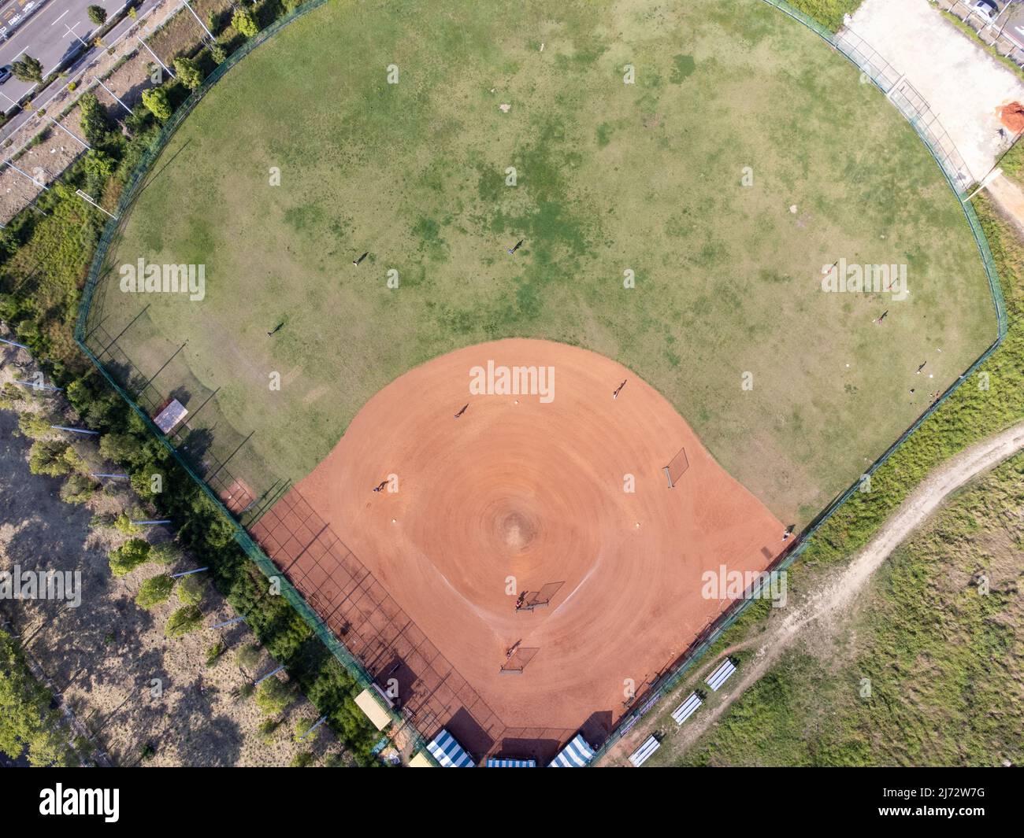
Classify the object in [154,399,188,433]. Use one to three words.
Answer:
shed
